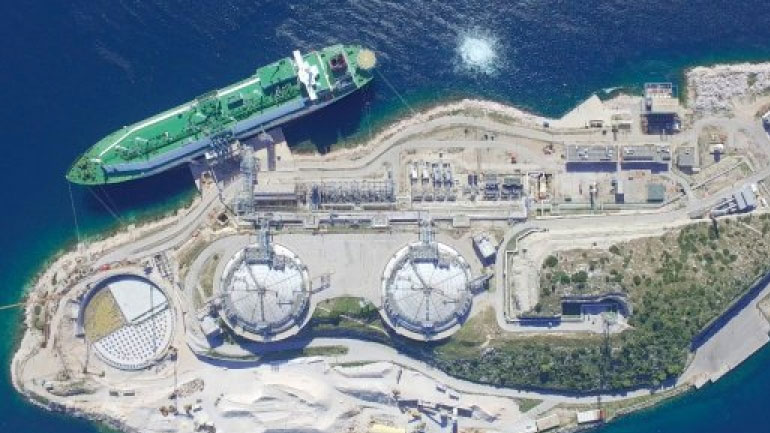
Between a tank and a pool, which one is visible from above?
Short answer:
tank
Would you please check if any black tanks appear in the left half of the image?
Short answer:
No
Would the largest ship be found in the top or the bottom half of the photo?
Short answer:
top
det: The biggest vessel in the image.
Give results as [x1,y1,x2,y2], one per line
[66,41,375,183]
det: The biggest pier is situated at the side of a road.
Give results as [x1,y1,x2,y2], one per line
[187,127,294,200]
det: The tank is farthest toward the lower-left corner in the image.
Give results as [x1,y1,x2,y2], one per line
[77,272,176,373]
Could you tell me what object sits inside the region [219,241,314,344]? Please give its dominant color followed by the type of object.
white storage tank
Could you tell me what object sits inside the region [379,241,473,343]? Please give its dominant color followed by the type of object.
white storage tank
